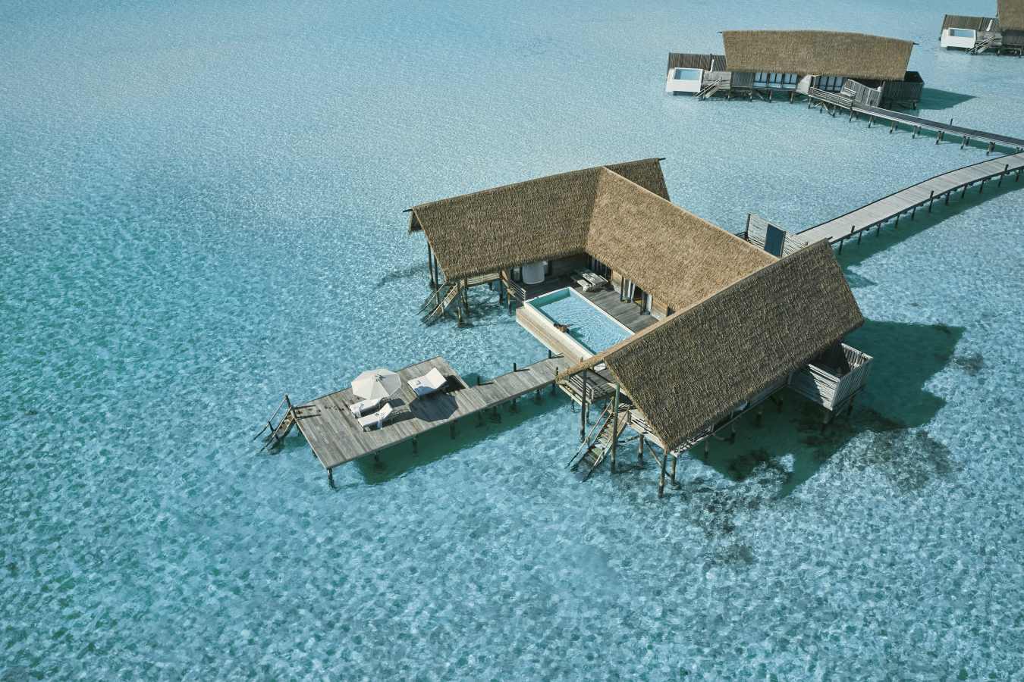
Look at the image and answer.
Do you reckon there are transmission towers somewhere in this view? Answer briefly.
No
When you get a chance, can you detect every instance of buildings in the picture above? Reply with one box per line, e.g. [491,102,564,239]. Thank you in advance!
[674,30,923,121]
[944,0,1024,58]
[404,157,875,501]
